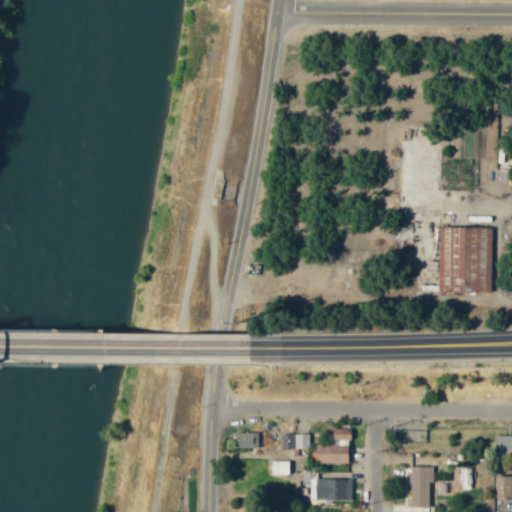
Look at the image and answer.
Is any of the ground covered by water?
Yes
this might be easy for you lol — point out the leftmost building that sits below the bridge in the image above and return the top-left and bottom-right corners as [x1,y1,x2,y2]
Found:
[234,433,260,453]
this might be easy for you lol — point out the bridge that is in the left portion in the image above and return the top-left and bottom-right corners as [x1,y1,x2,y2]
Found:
[0,330,249,372]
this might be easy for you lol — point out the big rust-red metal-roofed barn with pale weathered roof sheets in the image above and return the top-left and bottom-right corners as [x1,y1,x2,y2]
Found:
[440,228,493,292]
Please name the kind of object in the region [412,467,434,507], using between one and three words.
house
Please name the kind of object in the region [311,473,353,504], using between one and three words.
house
